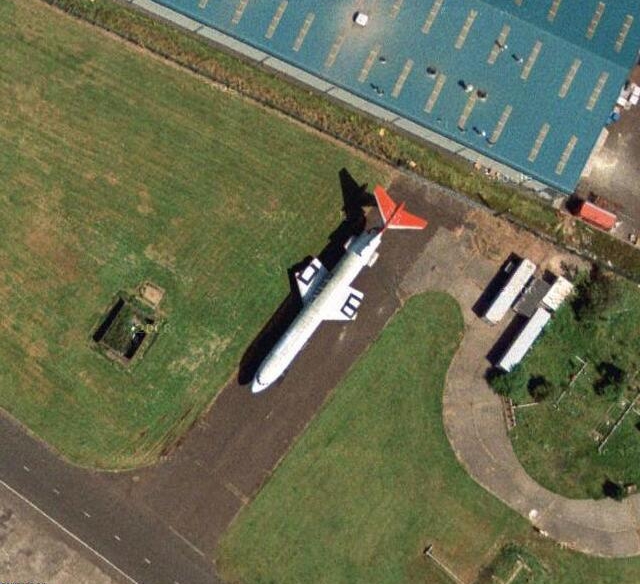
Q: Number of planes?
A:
1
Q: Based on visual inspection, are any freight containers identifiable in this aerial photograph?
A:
Yes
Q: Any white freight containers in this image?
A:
No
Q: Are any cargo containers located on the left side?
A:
No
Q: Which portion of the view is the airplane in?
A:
center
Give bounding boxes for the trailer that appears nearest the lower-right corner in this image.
[496,307,550,375]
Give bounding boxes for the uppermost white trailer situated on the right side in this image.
[482,259,536,326]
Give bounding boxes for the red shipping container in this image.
[576,202,615,230]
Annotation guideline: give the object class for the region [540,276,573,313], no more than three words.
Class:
building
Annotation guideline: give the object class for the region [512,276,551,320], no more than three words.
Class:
shed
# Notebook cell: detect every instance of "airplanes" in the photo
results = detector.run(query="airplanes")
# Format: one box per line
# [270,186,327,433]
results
[252,183,429,392]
